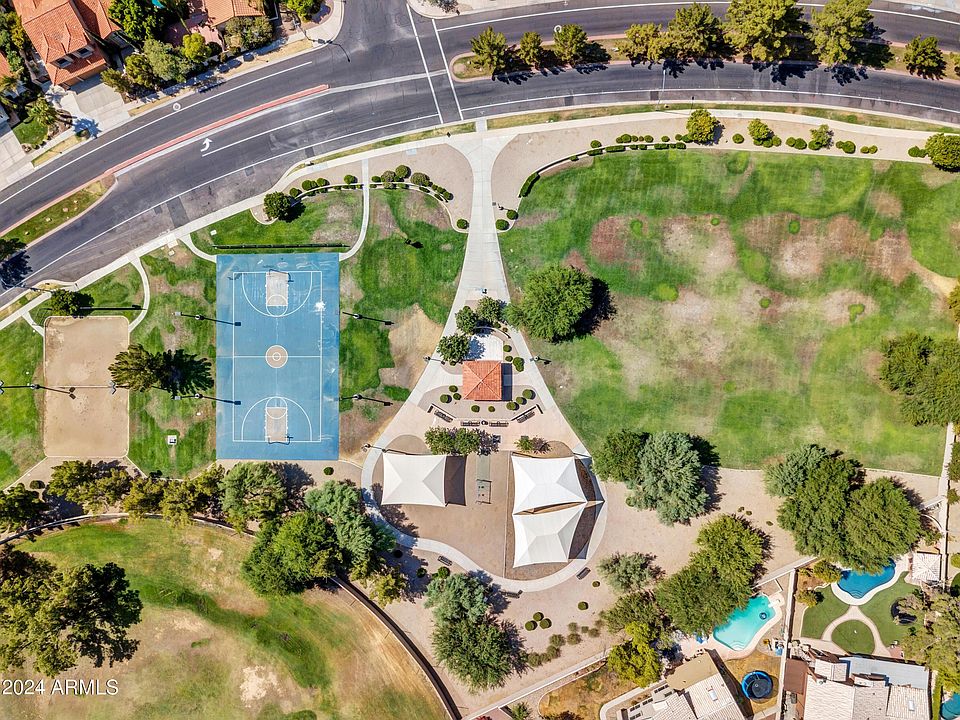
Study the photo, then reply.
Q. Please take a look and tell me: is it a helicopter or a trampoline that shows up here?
trampoline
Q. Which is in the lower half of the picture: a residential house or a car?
residential house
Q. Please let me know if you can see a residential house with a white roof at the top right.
No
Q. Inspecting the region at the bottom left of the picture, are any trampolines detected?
No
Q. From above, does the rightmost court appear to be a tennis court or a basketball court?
basketball court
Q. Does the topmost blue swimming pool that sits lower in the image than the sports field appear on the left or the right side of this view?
right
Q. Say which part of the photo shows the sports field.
right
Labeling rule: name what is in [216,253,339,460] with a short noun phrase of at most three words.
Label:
basketball court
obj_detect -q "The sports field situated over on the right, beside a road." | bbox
[498,142,960,479]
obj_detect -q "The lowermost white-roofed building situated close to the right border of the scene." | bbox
[782,648,929,720]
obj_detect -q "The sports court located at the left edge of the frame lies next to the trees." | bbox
[43,314,129,458]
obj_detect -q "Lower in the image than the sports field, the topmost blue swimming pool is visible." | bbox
[832,551,901,605]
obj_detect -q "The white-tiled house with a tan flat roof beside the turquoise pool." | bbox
[623,646,748,720]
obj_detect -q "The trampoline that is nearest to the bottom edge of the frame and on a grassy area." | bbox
[744,672,778,708]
